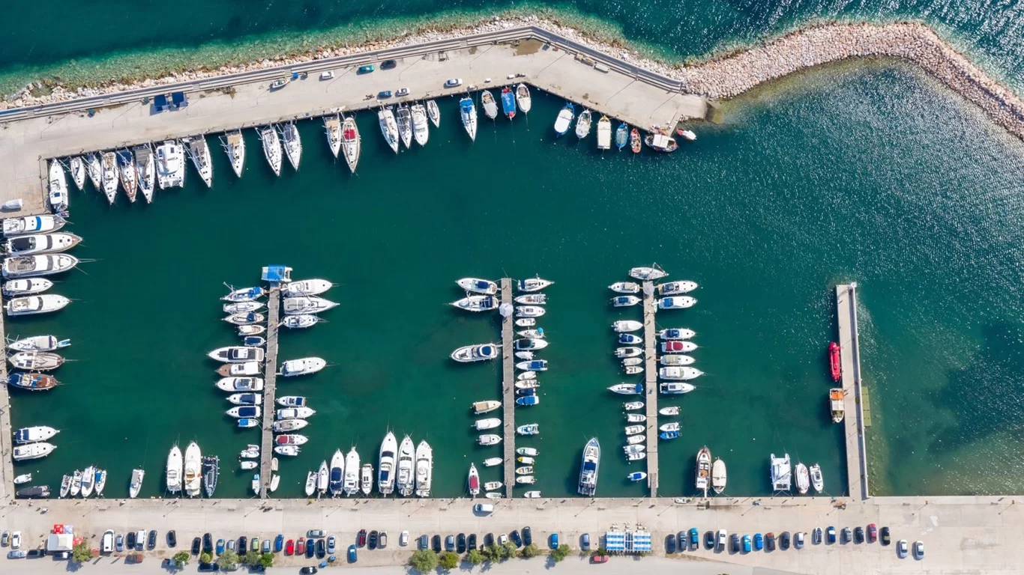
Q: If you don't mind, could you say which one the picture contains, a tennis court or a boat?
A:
boat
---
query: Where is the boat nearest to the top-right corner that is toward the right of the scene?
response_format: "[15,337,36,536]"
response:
[676,129,697,142]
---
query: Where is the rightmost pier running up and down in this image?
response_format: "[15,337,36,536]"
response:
[835,284,869,498]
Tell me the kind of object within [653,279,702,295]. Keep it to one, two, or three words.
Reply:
boat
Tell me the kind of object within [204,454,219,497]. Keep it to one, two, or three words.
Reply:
boat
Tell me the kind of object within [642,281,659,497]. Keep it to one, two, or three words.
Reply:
pier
